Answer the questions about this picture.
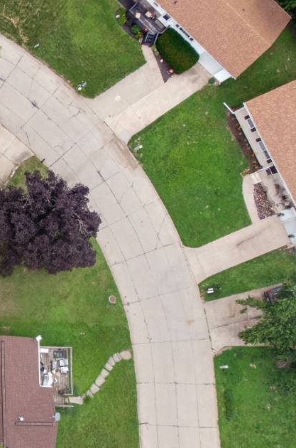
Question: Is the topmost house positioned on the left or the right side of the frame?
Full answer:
The topmost house is on the right side of the image.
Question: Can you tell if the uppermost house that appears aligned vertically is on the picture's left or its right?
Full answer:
You can find the uppermost house that appears aligned vertically on the right side of the picture.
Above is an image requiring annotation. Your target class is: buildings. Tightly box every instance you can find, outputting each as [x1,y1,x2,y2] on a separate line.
[129,0,296,84]
[0,333,60,448]
[223,78,296,258]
